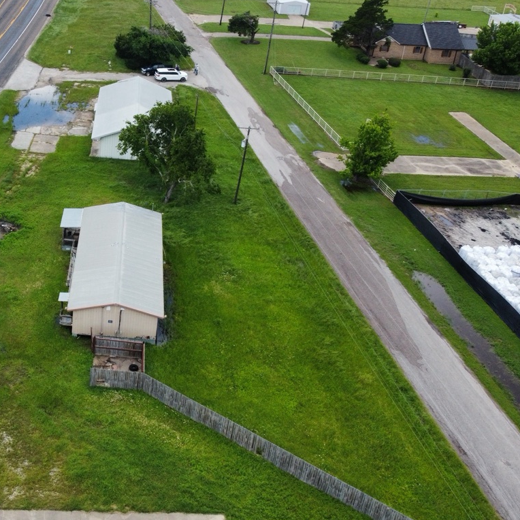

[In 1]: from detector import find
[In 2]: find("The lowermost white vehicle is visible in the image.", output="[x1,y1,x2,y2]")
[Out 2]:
[154,65,189,81]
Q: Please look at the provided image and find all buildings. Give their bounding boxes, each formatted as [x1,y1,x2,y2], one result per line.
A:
[365,23,486,64]
[489,12,520,35]
[57,202,166,342]
[89,78,178,160]
[269,0,312,15]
